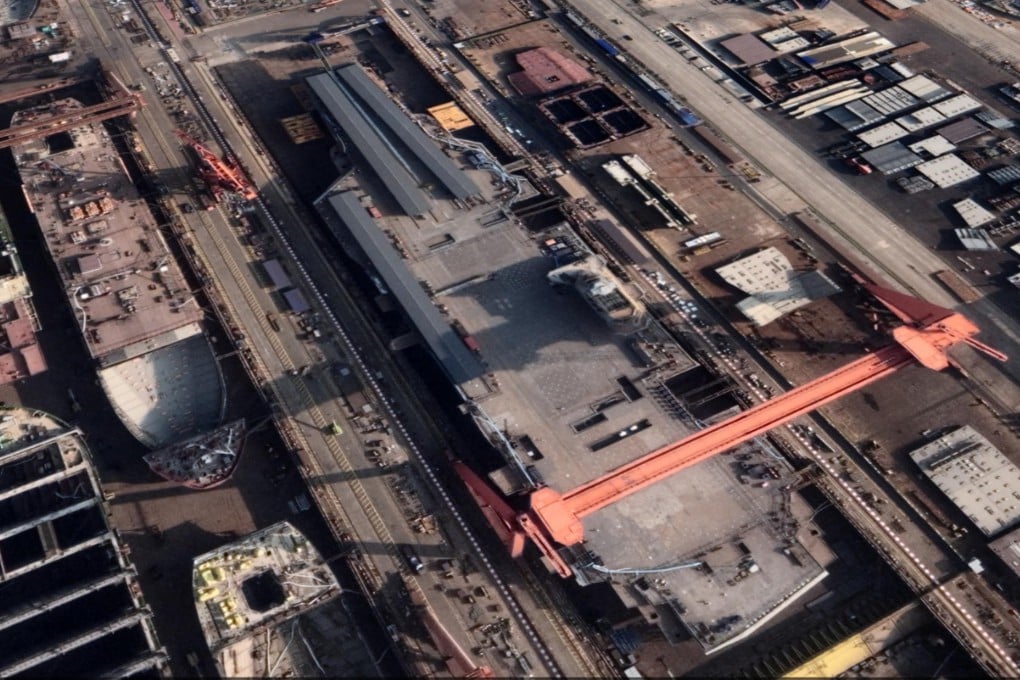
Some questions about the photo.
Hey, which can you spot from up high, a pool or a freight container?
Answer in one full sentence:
Of the two, only a freight container appears.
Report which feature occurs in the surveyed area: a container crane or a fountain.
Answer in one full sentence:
Looking from above, you can make out a container crane.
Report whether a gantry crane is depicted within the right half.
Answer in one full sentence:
Yes, a gantry crane can be seen within the right half.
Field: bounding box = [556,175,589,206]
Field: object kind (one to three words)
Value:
shed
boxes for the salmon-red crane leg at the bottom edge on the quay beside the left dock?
[405,577,495,680]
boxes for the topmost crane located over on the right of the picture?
[440,259,1014,590]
